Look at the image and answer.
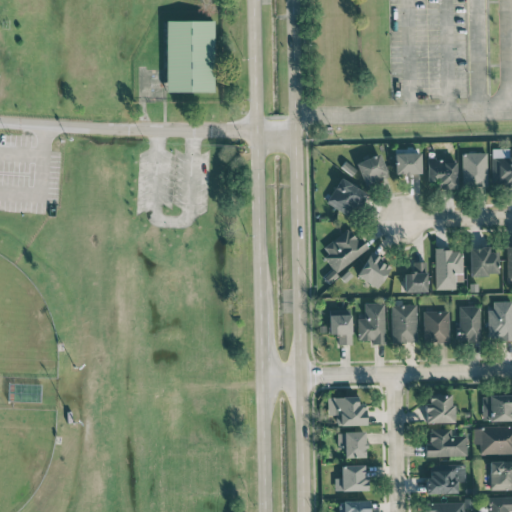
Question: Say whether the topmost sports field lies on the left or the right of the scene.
left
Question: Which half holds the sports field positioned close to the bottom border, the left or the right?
left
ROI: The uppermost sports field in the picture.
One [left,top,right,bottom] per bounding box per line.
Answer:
[0,254,58,378]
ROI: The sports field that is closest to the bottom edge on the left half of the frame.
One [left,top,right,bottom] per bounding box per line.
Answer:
[0,410,56,512]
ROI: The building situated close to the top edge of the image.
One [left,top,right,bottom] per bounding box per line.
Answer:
[167,20,216,93]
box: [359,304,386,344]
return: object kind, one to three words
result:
house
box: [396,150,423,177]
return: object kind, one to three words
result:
house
